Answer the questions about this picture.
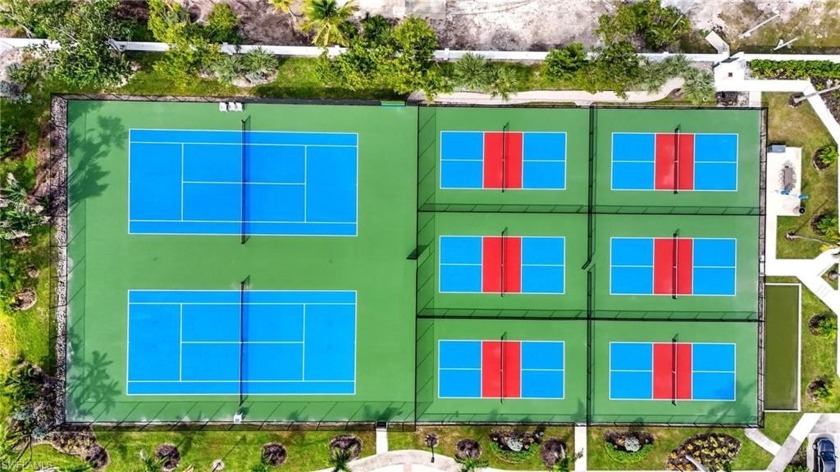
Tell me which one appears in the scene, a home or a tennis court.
tennis court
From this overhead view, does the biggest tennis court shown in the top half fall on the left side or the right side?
left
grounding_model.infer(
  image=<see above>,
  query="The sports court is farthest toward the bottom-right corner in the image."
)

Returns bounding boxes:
[609,342,736,401]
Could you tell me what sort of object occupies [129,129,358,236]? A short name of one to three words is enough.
tennis court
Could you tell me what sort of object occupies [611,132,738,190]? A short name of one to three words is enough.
sports court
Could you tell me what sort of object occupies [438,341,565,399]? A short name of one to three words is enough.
sports court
